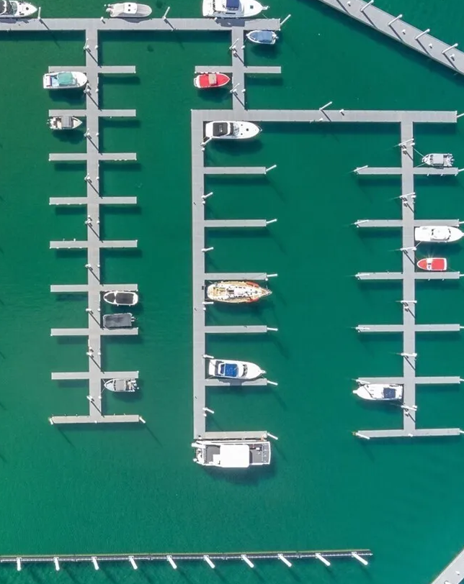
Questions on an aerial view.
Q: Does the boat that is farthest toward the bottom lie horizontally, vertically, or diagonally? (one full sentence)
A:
The boat that is farthest toward the bottom has been laid out horizontally relative to the frame.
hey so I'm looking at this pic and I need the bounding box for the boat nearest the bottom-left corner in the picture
[104,379,140,392]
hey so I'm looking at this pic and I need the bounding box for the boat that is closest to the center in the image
[203,281,273,303]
